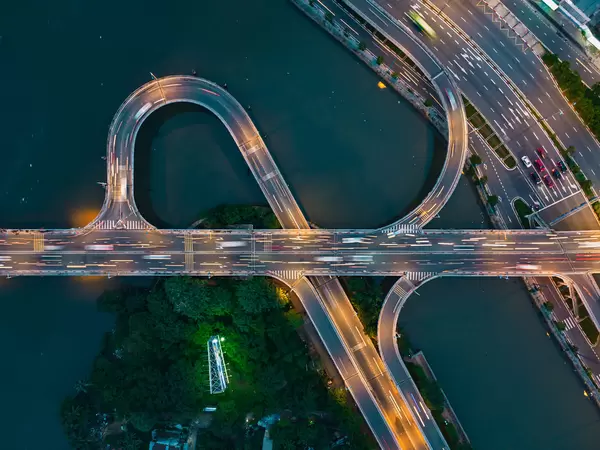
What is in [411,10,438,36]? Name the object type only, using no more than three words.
bus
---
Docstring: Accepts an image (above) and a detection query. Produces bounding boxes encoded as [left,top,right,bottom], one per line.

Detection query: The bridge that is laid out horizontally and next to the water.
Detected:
[0,229,600,276]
